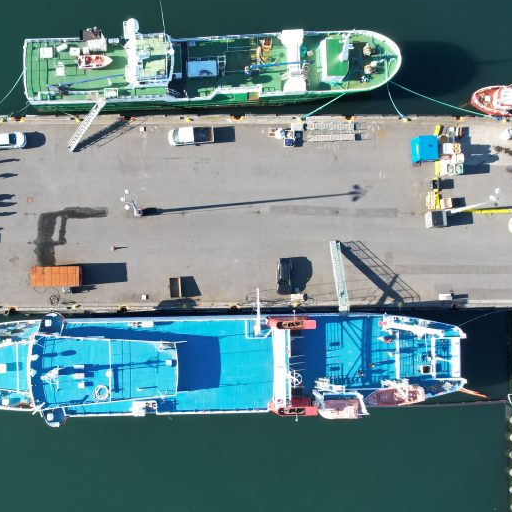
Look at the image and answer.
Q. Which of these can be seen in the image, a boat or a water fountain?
boat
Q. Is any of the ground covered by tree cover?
No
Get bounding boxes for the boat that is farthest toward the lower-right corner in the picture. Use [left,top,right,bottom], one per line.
[367,384,430,409]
